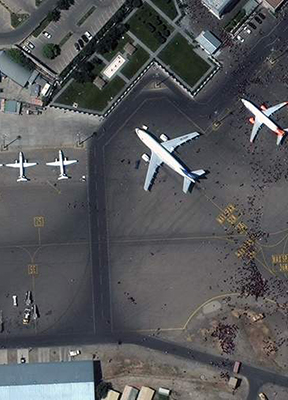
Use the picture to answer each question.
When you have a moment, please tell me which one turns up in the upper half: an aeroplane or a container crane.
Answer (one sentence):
There is an aeroplane in the upper half.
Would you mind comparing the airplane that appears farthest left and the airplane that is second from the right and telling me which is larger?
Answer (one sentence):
The airplane that is second from the right covers a greater area than the airplane that appears farthest left.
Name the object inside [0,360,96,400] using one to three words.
hangar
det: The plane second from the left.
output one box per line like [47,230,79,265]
[45,151,77,179]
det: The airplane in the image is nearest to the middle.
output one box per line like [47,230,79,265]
[135,128,206,192]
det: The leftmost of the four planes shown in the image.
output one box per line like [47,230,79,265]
[5,152,36,180]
